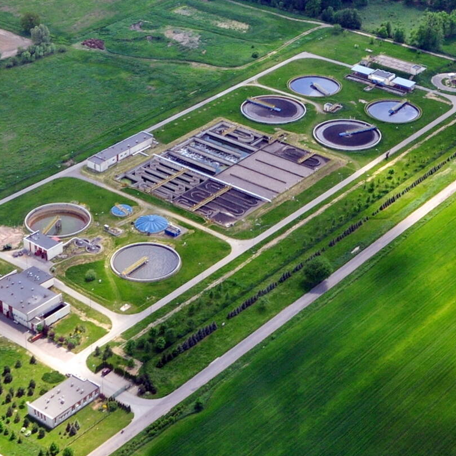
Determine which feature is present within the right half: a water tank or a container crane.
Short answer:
water tank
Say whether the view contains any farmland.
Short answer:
Yes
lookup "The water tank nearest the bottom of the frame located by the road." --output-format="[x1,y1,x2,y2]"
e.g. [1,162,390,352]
[110,243,181,284]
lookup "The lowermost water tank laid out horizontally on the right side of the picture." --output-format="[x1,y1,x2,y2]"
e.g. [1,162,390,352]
[312,119,382,153]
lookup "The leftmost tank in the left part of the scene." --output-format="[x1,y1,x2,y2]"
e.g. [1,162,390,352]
[23,203,92,240]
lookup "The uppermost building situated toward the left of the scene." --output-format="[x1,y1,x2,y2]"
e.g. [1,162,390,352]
[88,130,155,172]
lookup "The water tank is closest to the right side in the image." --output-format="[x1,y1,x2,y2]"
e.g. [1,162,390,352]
[365,100,423,125]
